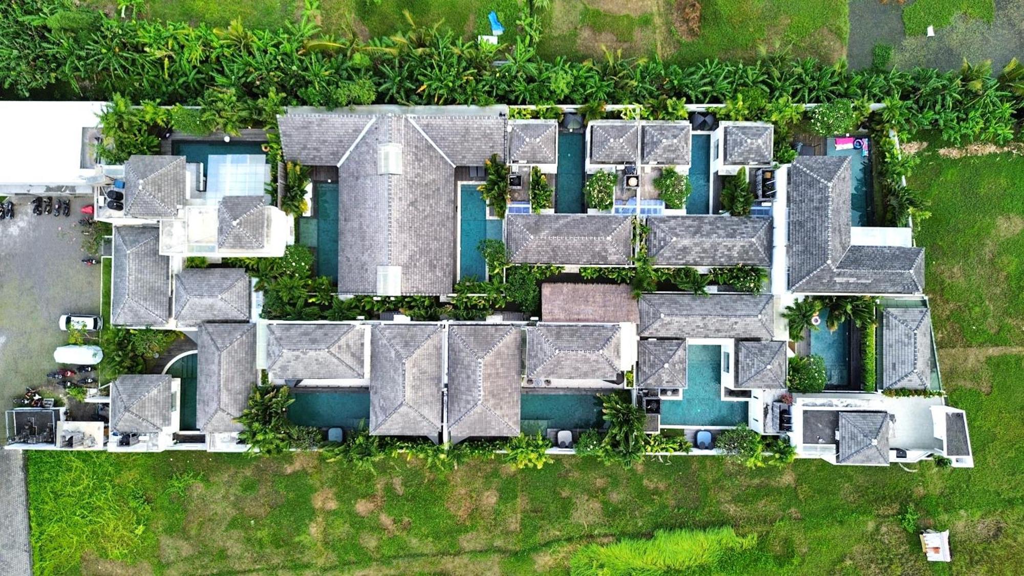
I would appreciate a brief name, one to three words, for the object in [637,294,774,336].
house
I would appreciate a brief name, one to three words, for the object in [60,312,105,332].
car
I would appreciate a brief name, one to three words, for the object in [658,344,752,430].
swimming pool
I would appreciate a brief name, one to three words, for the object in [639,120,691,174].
building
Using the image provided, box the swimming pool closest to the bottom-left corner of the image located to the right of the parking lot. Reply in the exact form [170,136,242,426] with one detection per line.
[165,350,197,431]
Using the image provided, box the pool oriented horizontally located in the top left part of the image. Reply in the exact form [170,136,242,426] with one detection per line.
[173,141,268,165]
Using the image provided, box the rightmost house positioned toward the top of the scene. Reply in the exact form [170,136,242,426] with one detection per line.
[789,156,926,295]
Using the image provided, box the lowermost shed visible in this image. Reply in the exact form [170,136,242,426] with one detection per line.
[916,527,949,561]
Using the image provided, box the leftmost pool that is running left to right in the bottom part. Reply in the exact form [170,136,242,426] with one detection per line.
[288,393,370,435]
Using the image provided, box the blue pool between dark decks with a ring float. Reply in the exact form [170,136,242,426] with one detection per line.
[811,308,849,385]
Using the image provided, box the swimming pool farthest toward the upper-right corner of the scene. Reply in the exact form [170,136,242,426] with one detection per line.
[828,137,871,227]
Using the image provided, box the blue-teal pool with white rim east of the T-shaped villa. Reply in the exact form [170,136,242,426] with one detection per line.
[457,181,505,284]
